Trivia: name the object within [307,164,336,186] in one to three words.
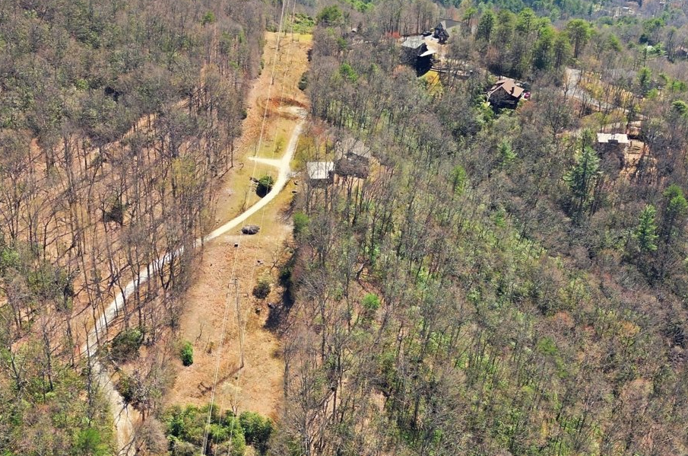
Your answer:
shed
